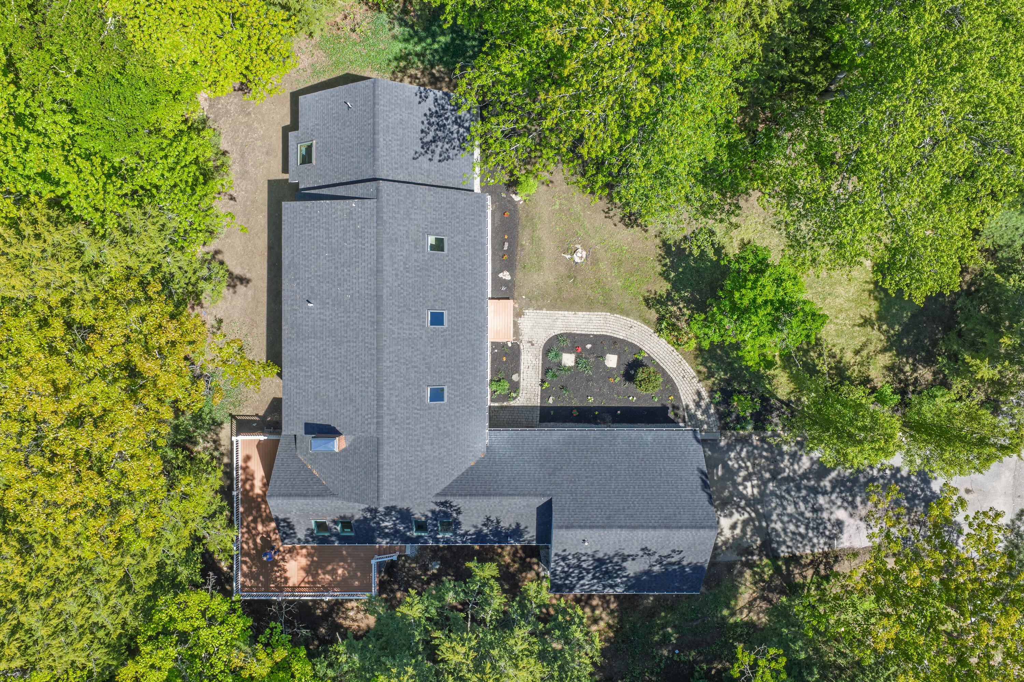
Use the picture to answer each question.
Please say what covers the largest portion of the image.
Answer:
trees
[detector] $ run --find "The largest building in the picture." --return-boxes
[267,78,716,596]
